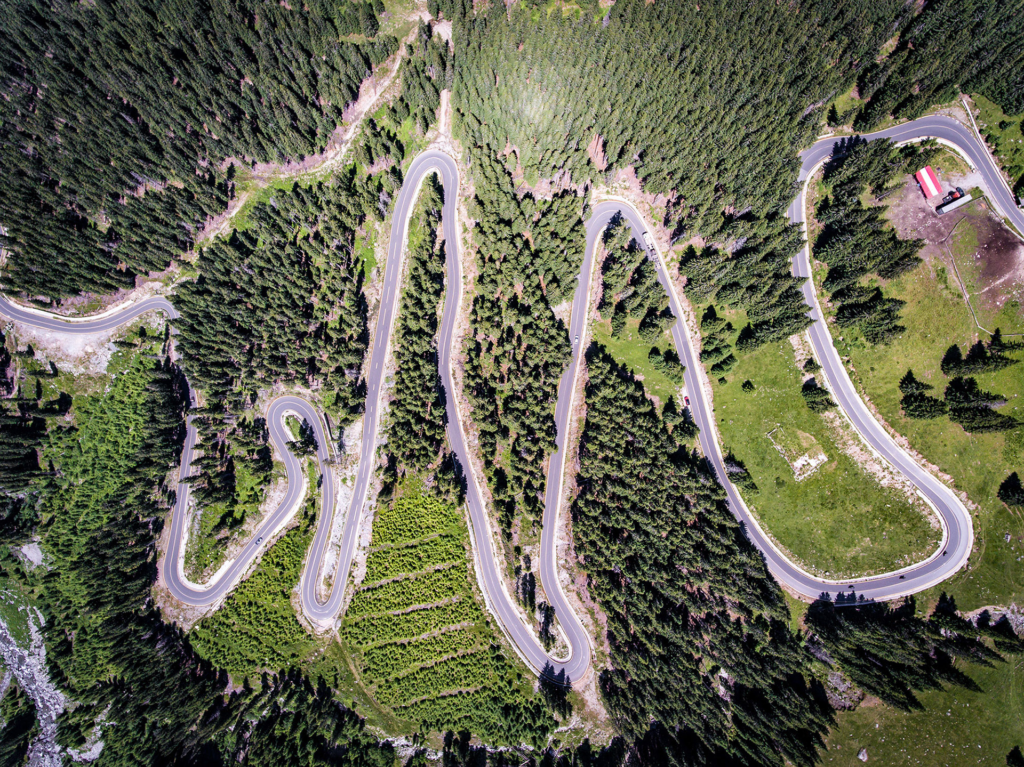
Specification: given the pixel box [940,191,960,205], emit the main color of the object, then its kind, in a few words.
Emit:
red vehicle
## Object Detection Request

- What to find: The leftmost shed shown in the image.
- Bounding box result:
[911,166,942,199]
